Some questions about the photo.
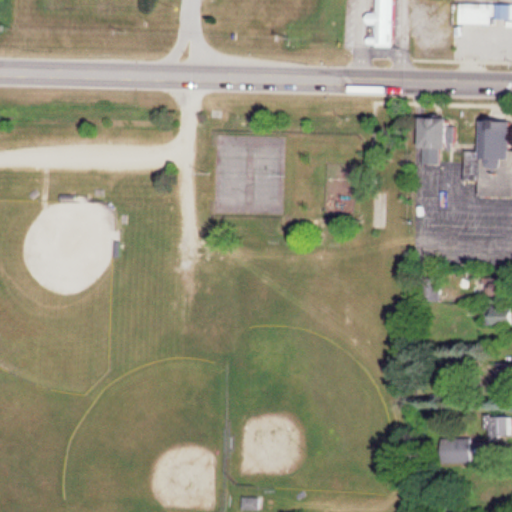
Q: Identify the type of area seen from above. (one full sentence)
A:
It's a sports ground.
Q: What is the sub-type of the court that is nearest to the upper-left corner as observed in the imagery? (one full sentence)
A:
What you see as the court that is nearest to the upper-left corner is a tennis court.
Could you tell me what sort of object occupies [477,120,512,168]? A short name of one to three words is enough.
house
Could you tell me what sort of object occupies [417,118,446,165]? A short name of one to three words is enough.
house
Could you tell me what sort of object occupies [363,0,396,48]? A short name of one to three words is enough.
building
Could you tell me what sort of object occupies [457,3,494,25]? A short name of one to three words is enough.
shed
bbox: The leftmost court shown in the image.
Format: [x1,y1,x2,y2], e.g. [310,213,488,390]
[215,135,286,215]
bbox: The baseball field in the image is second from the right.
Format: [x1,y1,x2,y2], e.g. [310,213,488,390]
[64,358,224,512]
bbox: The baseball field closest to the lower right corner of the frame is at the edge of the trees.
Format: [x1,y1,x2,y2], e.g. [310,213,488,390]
[229,326,392,494]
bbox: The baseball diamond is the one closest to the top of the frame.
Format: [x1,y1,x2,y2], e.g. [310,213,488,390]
[0,201,117,394]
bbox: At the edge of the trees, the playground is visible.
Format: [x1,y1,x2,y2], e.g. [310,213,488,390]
[326,164,354,214]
